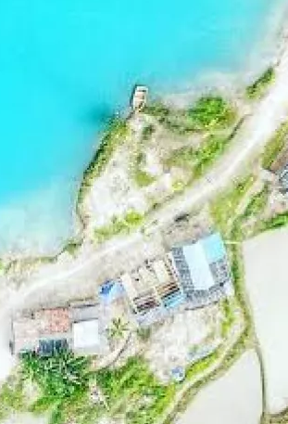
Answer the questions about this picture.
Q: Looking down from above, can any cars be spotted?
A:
No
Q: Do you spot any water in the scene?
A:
Yes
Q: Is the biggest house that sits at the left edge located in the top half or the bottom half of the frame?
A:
bottom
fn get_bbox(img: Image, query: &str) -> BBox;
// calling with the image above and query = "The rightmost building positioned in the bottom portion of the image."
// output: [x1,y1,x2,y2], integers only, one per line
[170,233,234,301]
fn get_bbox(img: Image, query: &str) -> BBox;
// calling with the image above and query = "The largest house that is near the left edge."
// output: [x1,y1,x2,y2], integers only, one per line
[13,305,70,356]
